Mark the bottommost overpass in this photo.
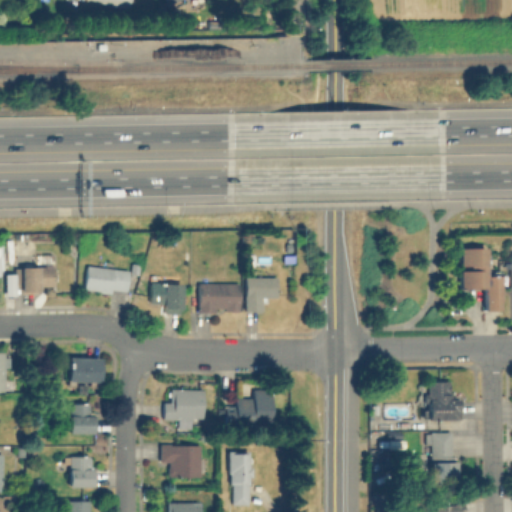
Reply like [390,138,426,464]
[229,108,446,212]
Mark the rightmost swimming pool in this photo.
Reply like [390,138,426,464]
[377,404,412,420]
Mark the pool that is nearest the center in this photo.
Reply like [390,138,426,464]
[252,255,273,267]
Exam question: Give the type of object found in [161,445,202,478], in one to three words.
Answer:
house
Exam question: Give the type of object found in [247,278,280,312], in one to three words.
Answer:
house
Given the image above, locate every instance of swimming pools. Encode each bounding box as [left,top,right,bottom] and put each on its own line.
[377,404,412,420]
[252,255,273,267]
